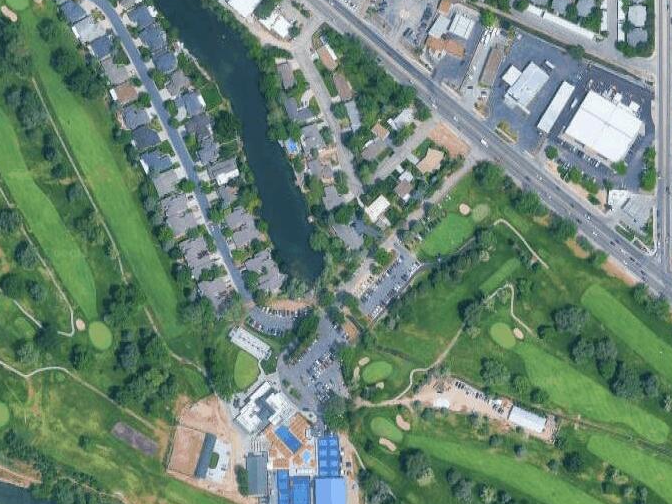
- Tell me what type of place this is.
golf course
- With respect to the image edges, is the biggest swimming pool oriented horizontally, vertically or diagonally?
diagonally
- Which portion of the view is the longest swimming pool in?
bottom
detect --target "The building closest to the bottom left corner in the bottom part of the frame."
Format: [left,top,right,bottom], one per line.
[195,434,217,479]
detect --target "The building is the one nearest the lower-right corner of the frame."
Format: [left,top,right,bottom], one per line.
[510,406,547,432]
